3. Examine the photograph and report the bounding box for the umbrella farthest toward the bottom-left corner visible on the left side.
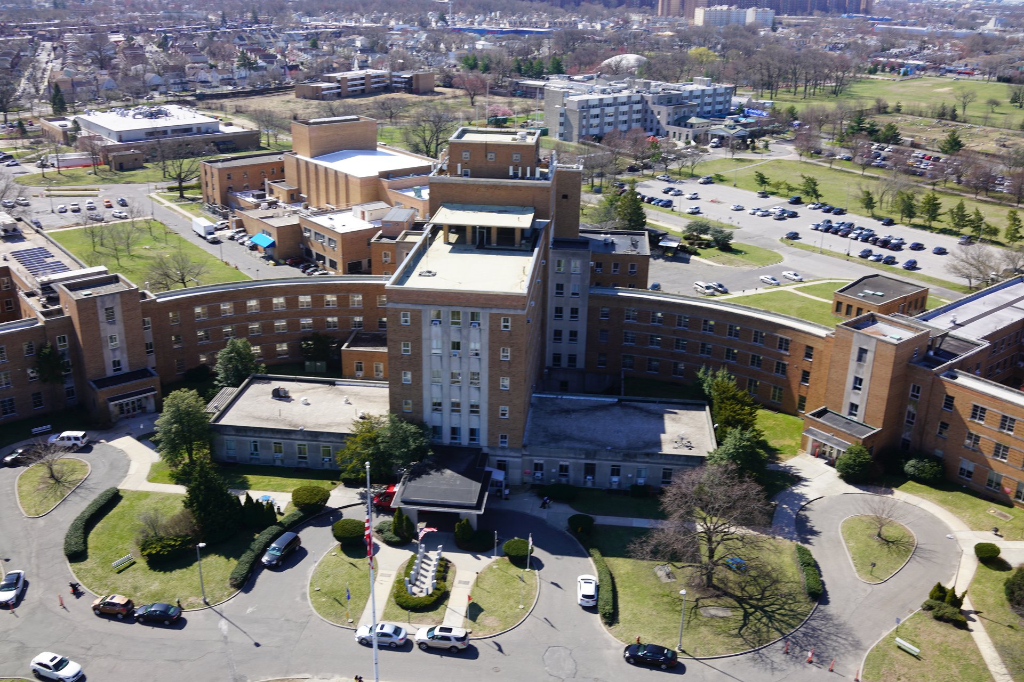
[255,481,274,501]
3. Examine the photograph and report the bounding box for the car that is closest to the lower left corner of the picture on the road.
[32,650,80,682]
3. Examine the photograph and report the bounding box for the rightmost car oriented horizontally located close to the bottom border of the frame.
[624,642,678,670]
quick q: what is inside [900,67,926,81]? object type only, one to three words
building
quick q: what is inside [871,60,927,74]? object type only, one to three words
building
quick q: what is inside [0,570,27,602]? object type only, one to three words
car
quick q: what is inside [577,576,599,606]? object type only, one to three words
car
